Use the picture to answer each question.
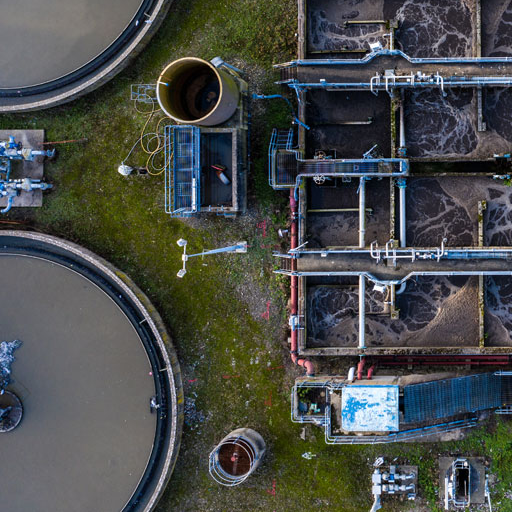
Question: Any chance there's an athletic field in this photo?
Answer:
No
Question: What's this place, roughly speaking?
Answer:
industrial area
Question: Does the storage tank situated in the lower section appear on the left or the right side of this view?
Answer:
left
